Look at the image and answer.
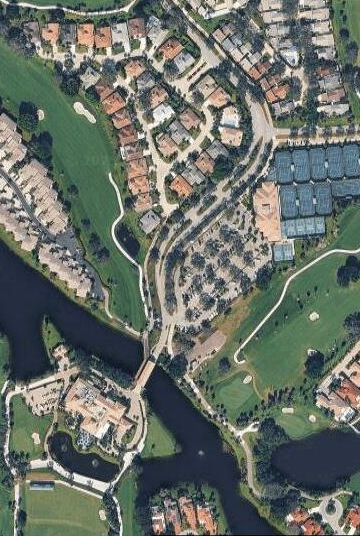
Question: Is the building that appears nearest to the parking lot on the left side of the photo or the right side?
right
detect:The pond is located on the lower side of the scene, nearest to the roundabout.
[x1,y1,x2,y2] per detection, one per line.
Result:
[274,431,360,489]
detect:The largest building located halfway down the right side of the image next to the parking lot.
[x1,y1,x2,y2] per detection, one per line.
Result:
[255,181,281,241]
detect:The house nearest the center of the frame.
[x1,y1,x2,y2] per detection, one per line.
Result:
[138,210,163,234]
